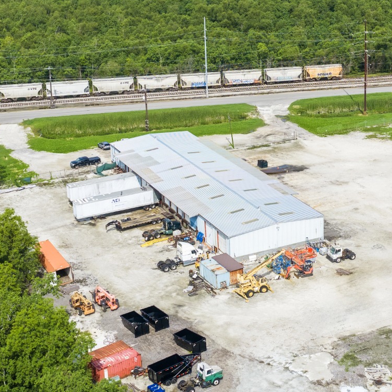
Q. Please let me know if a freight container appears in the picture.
Yes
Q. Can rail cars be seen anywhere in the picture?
Yes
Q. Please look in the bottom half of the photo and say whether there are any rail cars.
No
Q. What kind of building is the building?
warehouse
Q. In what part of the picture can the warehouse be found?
center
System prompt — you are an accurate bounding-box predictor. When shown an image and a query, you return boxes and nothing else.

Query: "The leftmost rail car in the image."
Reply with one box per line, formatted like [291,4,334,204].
[0,84,41,102]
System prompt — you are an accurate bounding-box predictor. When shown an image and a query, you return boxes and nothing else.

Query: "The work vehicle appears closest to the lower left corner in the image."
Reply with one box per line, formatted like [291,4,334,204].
[73,291,101,315]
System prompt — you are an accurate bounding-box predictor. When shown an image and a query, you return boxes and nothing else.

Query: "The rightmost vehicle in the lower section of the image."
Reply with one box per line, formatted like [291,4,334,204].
[323,239,356,262]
